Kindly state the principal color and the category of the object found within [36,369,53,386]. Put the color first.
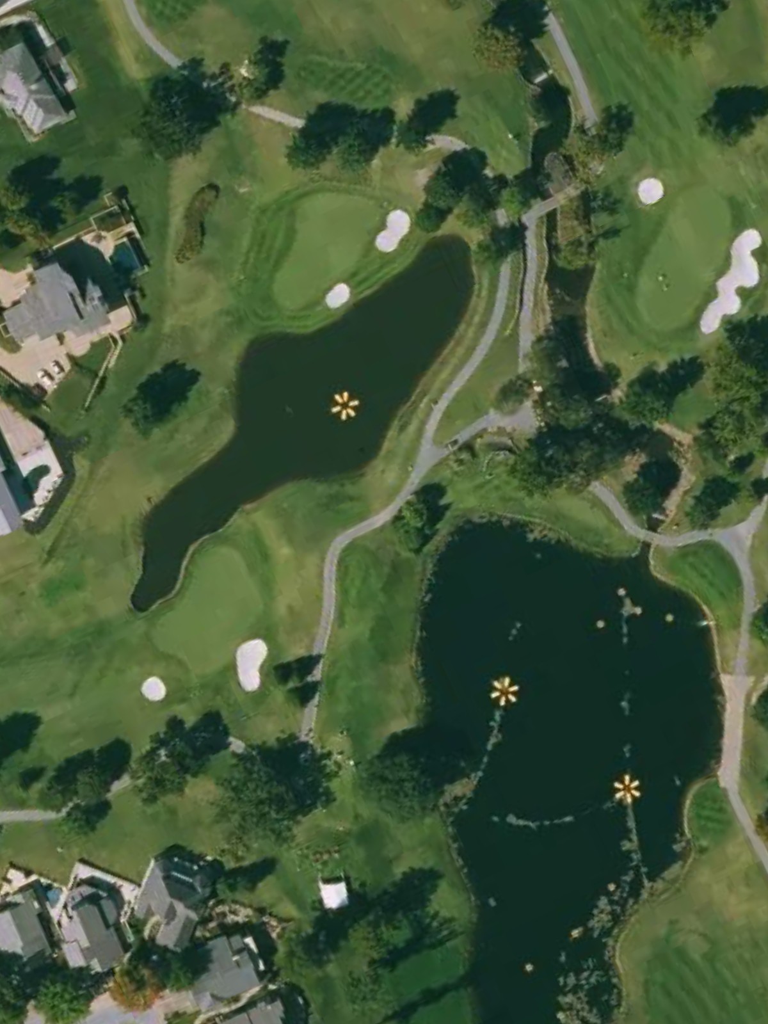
white car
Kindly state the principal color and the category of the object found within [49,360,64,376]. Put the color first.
white car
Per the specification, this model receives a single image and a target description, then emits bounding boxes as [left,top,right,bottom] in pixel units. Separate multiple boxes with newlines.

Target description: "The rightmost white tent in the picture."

[319,873,348,905]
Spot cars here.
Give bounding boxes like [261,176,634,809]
[36,369,53,386]
[49,360,64,376]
